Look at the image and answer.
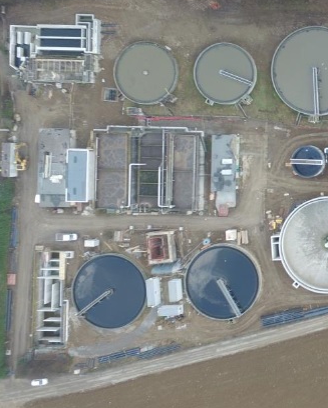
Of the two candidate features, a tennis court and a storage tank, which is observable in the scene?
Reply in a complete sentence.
The image shows a storage tank.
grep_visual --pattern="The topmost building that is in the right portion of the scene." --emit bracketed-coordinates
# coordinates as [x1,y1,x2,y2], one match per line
[211,136,241,208]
